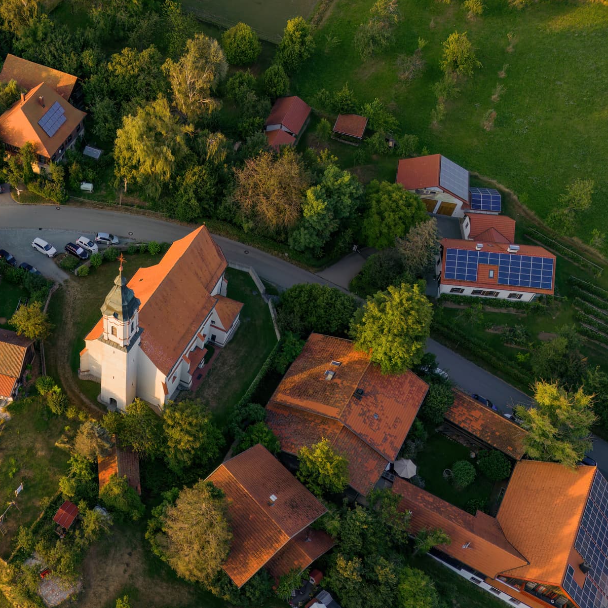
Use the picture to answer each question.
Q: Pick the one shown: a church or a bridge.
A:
church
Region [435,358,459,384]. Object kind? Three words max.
car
